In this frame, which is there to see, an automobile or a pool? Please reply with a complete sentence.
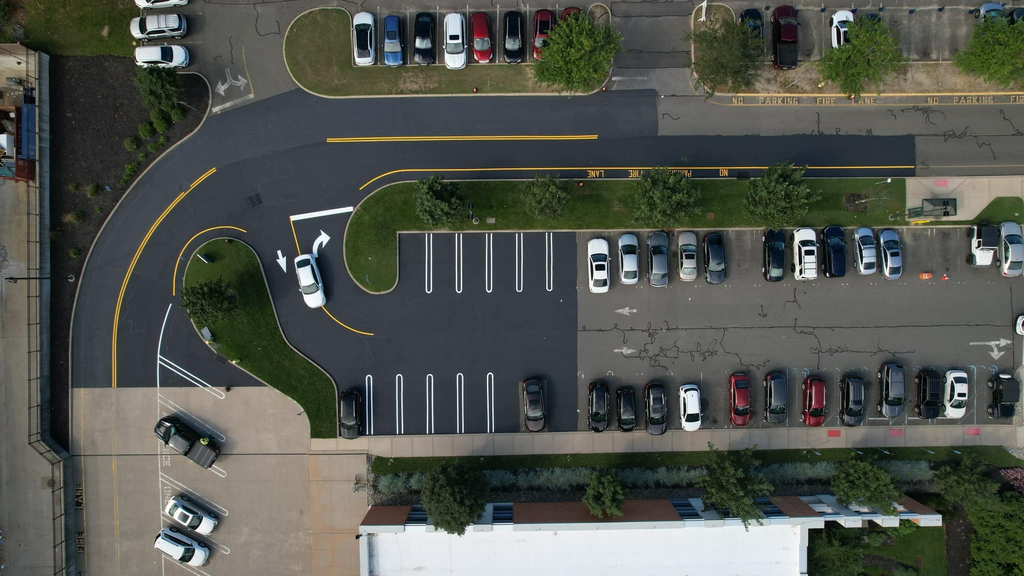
Visible in the photo is an automobile.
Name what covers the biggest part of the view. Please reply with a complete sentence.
The largest share of the image is taken up by paved ground.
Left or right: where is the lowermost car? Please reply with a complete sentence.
You can find the lowermost car on the left side of the picture.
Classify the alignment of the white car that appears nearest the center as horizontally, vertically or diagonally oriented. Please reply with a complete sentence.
The white car that appears nearest the center is laid out vertically.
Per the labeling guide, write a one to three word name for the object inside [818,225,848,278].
car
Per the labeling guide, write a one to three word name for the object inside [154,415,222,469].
truck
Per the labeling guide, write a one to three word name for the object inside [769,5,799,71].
truck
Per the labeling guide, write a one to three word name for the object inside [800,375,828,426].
car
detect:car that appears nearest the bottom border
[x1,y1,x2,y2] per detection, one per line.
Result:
[153,523,212,567]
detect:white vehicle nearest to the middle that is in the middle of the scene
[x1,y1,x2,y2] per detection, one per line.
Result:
[587,238,612,293]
